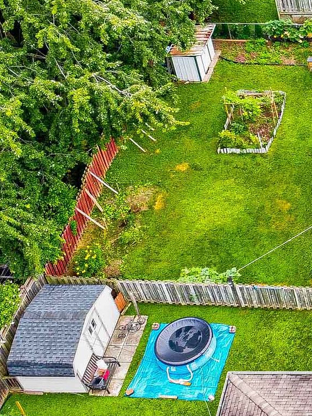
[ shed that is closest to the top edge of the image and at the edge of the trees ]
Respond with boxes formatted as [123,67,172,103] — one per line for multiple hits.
[165,21,220,83]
